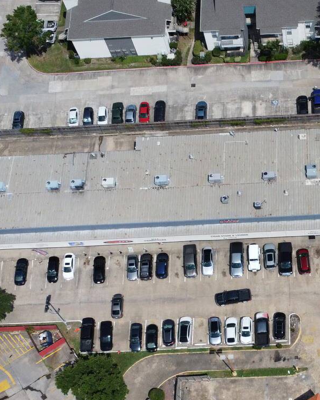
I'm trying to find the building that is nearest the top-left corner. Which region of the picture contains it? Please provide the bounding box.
[66,0,177,58]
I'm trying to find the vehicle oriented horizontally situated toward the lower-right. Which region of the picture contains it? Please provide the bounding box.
[214,288,253,305]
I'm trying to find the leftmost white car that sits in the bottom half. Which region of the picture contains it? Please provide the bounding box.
[61,253,76,281]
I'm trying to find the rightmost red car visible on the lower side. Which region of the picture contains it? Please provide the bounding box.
[296,249,310,275]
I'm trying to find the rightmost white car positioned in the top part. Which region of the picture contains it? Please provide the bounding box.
[96,106,109,124]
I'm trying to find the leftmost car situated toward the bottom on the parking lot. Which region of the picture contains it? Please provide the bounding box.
[15,260,29,286]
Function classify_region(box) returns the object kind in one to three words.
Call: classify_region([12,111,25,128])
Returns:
vehicle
